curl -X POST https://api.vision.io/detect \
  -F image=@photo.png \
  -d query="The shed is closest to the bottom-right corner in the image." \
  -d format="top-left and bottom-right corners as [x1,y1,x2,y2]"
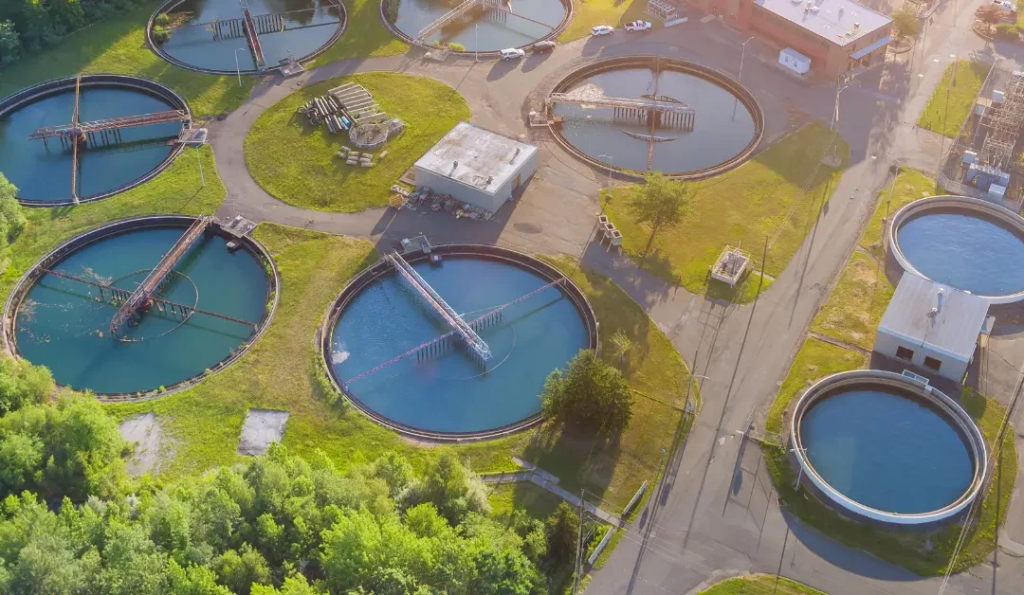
[873,272,995,379]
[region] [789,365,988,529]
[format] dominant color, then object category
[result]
blue storage tank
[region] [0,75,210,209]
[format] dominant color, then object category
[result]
blue storage tank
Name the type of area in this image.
industrial area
